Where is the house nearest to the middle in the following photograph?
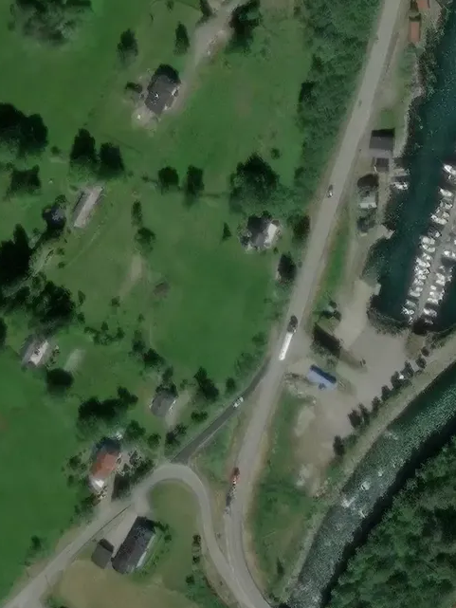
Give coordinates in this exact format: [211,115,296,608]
[255,219,285,247]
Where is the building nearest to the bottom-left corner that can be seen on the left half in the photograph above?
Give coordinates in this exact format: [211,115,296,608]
[91,544,113,568]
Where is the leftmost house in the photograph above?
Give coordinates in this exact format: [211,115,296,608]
[21,336,48,366]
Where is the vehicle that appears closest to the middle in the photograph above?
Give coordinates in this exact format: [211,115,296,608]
[278,316,297,360]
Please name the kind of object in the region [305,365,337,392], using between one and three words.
shed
